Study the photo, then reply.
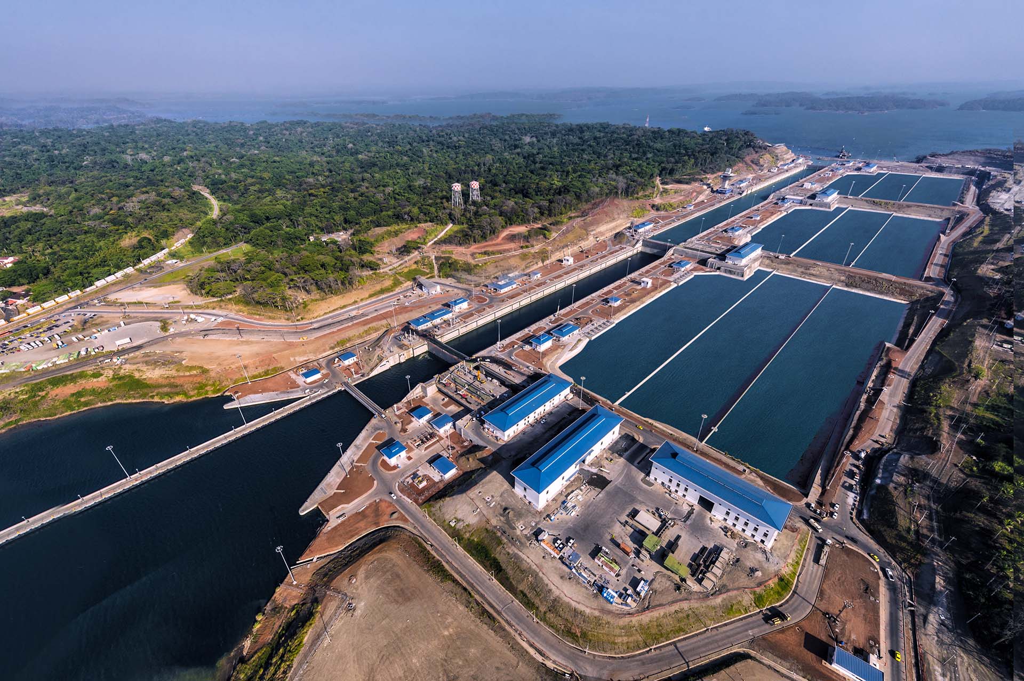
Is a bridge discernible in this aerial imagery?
Yes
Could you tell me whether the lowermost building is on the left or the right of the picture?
right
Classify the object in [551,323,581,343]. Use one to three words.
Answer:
building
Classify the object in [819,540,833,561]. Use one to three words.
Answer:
vehicle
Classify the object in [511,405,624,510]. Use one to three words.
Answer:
building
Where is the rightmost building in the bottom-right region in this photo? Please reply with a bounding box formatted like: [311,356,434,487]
[821,646,890,681]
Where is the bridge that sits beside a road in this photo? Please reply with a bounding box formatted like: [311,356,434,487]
[340,379,386,417]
